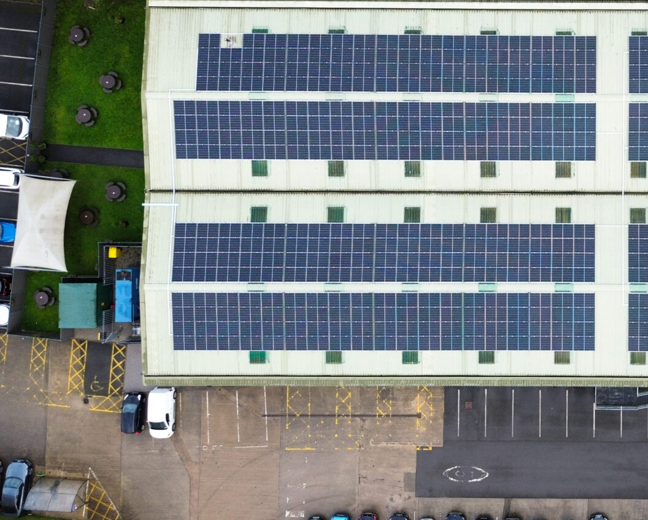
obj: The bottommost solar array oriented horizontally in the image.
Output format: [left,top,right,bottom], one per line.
[171,291,595,352]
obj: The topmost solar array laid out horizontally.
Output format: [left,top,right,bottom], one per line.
[196,33,596,94]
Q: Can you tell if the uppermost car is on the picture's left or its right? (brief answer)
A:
left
